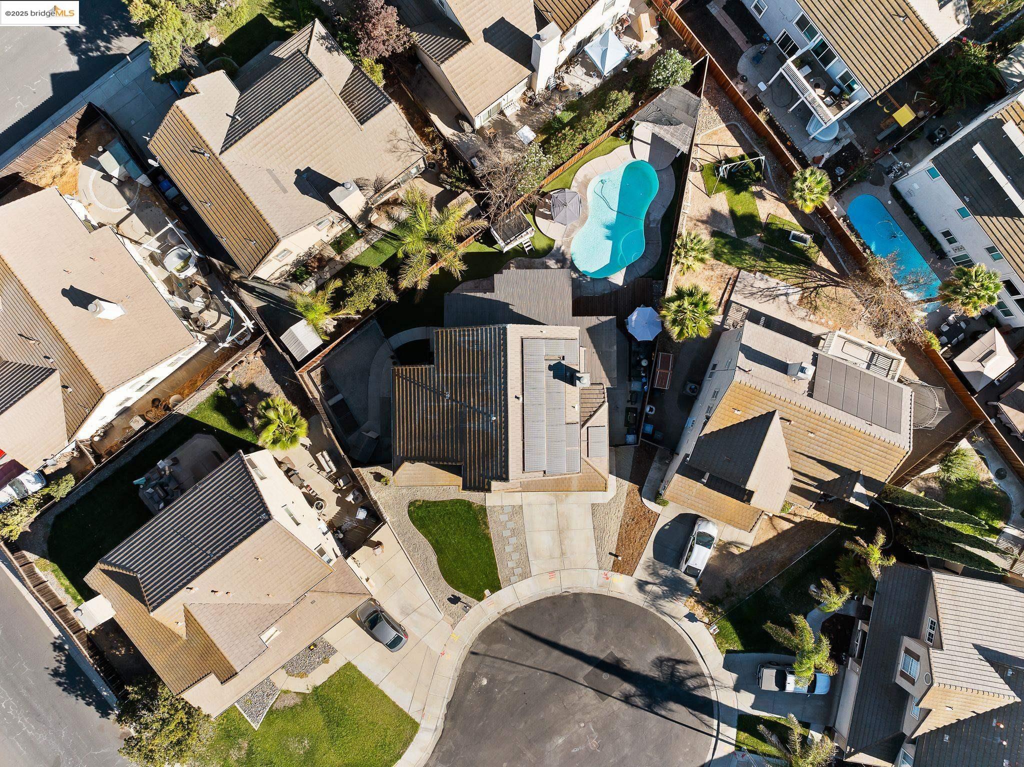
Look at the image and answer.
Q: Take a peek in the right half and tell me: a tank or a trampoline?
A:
trampoline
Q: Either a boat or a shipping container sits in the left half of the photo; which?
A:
boat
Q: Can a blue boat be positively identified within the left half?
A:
No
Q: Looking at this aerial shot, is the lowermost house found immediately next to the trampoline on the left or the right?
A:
right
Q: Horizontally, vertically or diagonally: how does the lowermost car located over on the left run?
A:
diagonally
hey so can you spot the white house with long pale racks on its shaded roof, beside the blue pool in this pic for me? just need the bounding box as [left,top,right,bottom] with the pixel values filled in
[893,83,1024,320]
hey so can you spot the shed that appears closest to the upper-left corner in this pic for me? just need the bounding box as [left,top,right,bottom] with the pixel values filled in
[96,132,147,185]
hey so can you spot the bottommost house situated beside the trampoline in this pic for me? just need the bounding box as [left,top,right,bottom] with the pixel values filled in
[662,320,914,533]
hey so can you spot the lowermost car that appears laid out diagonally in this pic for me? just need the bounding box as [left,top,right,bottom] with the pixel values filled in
[357,599,409,654]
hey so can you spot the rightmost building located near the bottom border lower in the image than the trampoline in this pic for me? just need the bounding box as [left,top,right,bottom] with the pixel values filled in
[838,558,1024,767]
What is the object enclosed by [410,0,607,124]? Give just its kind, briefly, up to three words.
house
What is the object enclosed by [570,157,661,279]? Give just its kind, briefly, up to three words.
swimming pool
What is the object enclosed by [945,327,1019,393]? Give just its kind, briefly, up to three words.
gazebo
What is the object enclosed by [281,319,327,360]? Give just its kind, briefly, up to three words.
shed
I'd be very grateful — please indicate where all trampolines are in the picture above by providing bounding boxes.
[896,378,953,436]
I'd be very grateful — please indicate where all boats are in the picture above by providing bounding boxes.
[167,246,199,278]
